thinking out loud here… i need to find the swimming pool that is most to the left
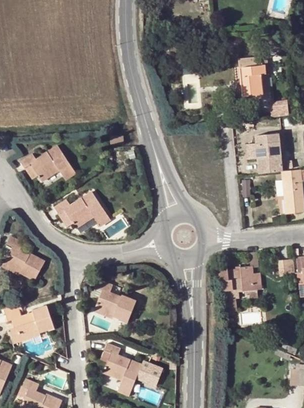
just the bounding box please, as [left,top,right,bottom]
[22,336,54,358]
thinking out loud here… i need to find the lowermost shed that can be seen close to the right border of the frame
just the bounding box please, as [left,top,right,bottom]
[290,365,304,388]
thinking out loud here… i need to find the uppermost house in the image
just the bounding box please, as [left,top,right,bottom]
[238,58,266,97]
